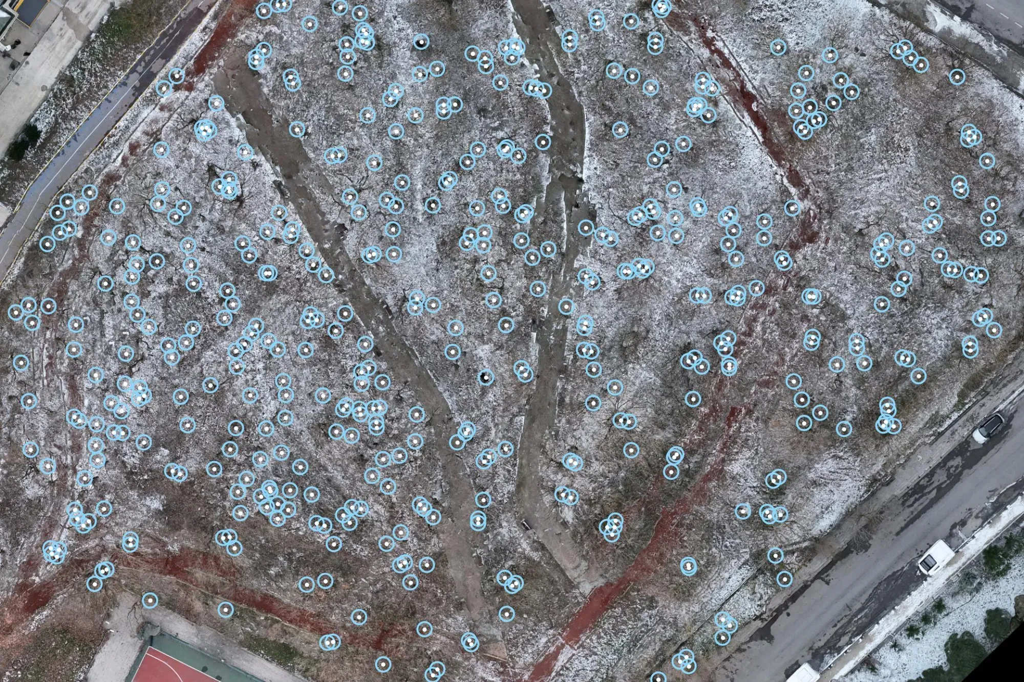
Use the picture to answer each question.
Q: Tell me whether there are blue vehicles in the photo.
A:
No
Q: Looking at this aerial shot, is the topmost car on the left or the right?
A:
right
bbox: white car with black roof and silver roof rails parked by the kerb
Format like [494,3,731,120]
[972,412,1005,444]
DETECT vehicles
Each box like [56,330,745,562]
[781,661,819,682]
[915,537,957,576]
[972,412,1005,444]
